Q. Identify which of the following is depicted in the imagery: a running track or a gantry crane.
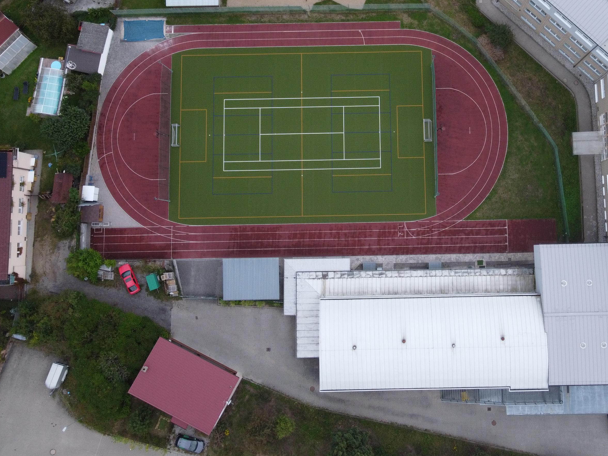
running track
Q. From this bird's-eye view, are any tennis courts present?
Yes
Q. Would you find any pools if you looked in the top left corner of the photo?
Yes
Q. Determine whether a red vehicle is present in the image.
Yes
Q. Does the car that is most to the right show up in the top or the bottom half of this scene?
bottom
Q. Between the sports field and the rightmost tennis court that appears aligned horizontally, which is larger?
the sports field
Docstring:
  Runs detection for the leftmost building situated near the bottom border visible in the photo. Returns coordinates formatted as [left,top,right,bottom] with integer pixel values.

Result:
[124,336,240,435]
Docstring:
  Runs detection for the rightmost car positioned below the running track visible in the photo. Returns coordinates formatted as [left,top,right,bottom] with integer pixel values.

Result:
[175,433,206,454]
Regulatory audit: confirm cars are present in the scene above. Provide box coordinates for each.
[120,263,140,295]
[175,433,206,454]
